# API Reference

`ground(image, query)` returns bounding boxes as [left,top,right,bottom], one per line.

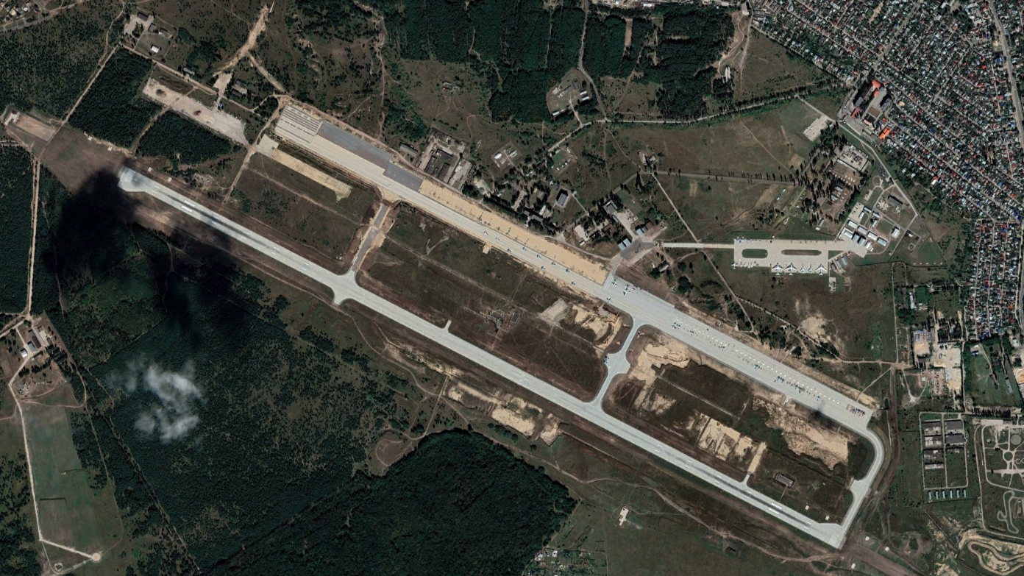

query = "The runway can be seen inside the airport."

[115,165,853,553]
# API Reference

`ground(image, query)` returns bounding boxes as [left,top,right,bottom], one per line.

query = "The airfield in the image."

[115,78,884,553]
